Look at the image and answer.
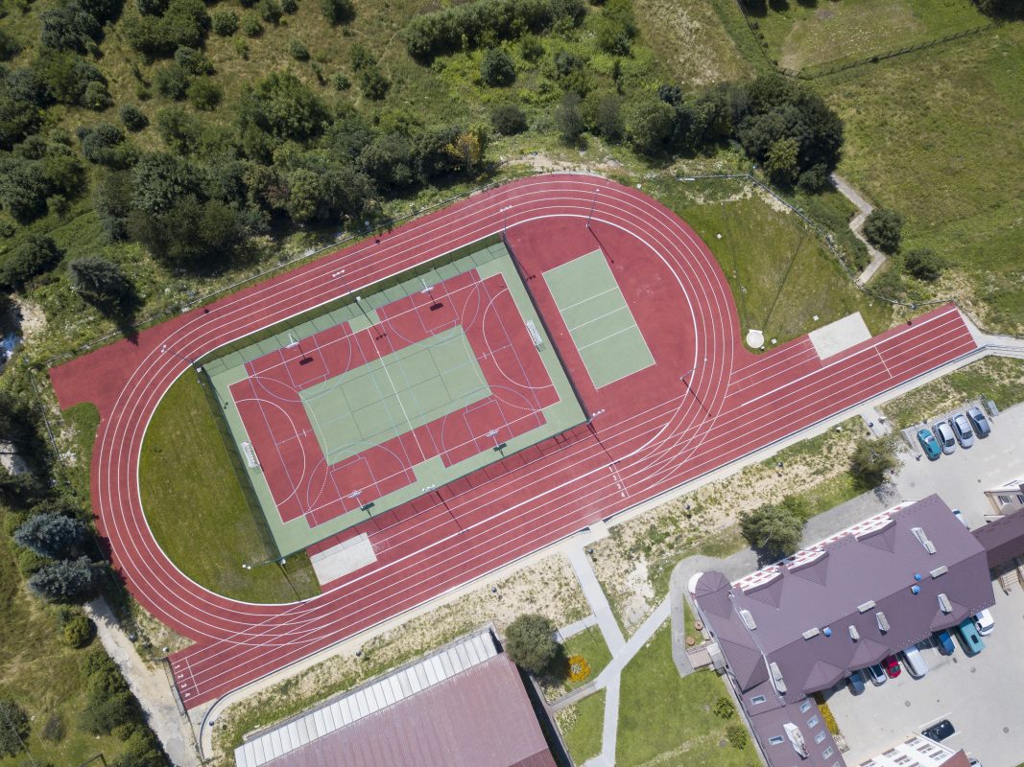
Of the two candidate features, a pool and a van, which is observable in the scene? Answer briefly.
van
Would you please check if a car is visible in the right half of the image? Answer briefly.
Yes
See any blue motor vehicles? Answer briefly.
Yes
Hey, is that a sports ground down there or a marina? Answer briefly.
sports ground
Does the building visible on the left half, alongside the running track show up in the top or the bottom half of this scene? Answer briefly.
bottom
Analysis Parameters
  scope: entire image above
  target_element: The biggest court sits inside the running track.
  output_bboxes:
[203,241,587,557]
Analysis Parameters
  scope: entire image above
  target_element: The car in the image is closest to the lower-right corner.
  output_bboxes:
[961,747,984,767]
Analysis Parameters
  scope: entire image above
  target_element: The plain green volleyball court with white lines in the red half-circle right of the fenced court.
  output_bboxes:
[542,249,656,390]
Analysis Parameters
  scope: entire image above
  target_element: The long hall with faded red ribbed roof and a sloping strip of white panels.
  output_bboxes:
[238,625,556,767]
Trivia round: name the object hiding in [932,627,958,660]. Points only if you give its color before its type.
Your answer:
blue car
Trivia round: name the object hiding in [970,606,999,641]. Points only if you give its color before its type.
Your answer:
white van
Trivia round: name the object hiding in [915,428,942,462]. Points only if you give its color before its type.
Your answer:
blue car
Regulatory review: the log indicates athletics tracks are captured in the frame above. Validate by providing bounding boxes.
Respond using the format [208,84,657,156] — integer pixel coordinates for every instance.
[50,175,979,711]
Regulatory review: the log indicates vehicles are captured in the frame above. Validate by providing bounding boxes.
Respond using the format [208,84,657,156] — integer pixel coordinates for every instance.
[961,747,984,767]
[919,715,958,745]
[931,421,957,454]
[970,606,999,641]
[898,643,929,681]
[881,653,904,682]
[915,428,942,462]
[952,616,985,657]
[865,660,890,691]
[932,627,958,660]
[843,671,868,702]
[948,414,975,447]
[965,405,993,439]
